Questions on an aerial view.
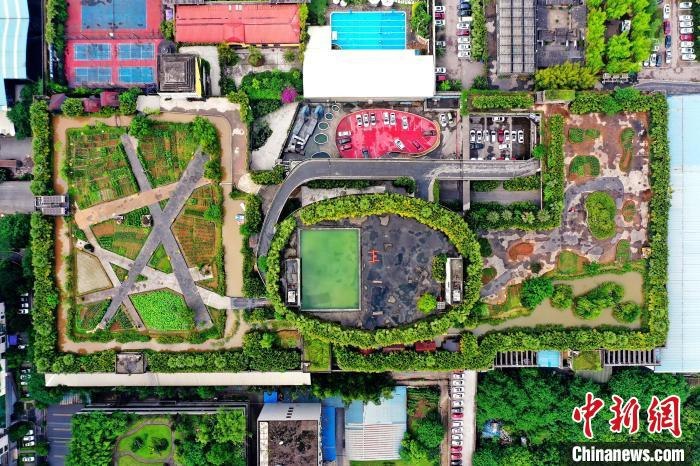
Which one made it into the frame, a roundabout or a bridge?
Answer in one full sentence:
Visible in the photo is a bridge.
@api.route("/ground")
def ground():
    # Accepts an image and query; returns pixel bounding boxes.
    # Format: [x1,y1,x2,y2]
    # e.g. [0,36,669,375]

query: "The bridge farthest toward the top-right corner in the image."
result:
[253,158,541,276]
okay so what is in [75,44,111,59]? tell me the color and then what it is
blue sports court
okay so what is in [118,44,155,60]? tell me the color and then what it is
blue sports court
